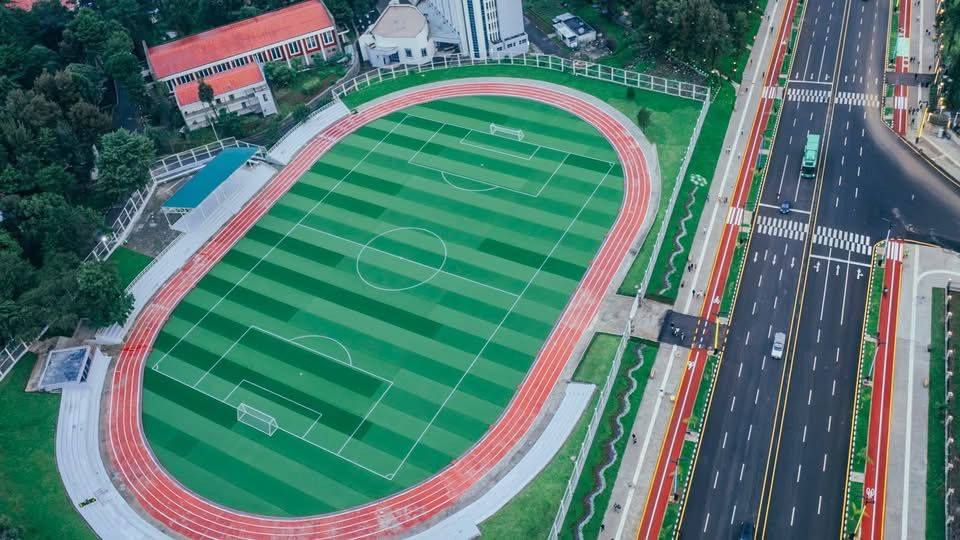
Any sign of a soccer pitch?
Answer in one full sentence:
Yes, looking at the shot, I can spot a soccer pitch.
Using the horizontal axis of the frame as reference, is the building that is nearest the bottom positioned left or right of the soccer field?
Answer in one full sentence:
The soccer field has the building that is nearest the bottom on its left side.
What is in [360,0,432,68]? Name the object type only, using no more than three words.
building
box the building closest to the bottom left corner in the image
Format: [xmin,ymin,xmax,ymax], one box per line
[38,346,92,392]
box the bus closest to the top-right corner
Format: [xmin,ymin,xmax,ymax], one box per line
[799,134,819,179]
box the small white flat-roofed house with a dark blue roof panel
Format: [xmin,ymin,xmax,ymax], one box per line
[548,11,596,52]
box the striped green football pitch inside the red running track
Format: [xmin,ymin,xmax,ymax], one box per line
[142,97,622,515]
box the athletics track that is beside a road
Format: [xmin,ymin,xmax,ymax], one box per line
[103,82,652,540]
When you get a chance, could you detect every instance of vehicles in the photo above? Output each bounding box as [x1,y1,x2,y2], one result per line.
[781,199,791,213]
[737,522,753,540]
[772,329,788,357]
[799,134,819,179]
